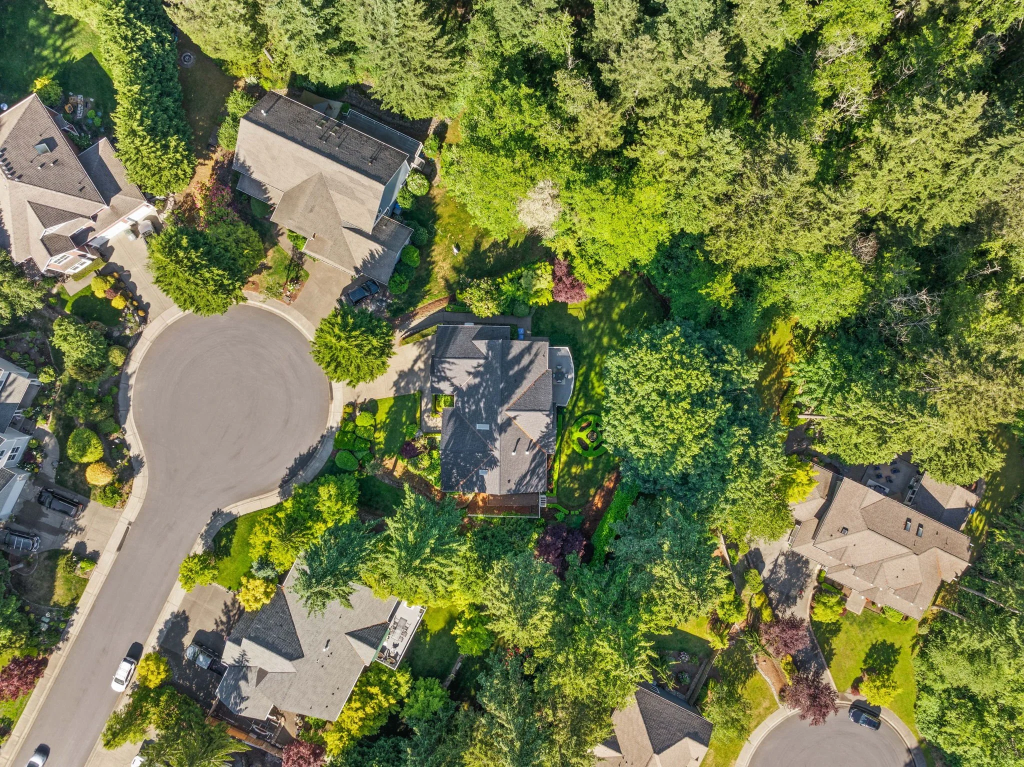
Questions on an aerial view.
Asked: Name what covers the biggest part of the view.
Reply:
trees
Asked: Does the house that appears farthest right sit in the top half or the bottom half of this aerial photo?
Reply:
bottom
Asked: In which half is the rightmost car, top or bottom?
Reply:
bottom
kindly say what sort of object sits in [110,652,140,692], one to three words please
car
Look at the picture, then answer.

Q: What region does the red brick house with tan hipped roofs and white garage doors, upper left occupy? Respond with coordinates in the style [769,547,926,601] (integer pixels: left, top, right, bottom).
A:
[0,93,151,274]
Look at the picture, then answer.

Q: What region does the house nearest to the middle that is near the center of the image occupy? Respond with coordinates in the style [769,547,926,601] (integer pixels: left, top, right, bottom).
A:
[430,322,557,495]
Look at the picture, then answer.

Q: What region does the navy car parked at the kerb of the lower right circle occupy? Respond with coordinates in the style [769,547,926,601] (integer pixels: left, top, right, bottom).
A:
[844,705,886,733]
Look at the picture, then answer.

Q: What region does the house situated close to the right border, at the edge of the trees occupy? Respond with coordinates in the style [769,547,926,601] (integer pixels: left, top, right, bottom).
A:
[776,458,979,621]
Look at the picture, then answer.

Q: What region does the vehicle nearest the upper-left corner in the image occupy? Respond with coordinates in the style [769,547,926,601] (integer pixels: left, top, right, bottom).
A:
[137,224,166,264]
